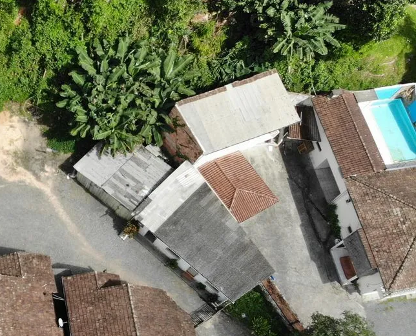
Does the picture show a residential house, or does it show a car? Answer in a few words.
residential house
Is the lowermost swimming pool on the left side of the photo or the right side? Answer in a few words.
right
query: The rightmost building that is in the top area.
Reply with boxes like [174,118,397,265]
[312,90,386,178]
